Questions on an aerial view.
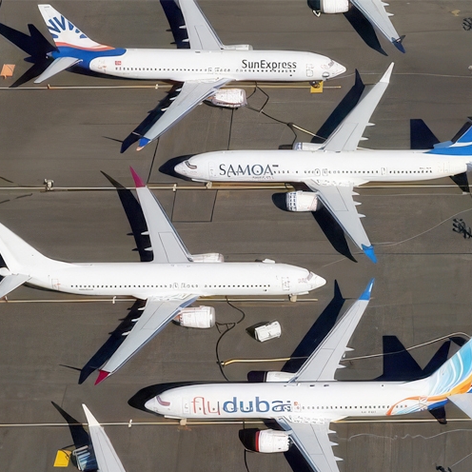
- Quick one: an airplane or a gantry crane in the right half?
airplane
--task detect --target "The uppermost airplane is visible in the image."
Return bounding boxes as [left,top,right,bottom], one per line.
[319,0,406,54]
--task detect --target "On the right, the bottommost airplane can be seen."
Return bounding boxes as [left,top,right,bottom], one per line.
[142,277,472,472]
